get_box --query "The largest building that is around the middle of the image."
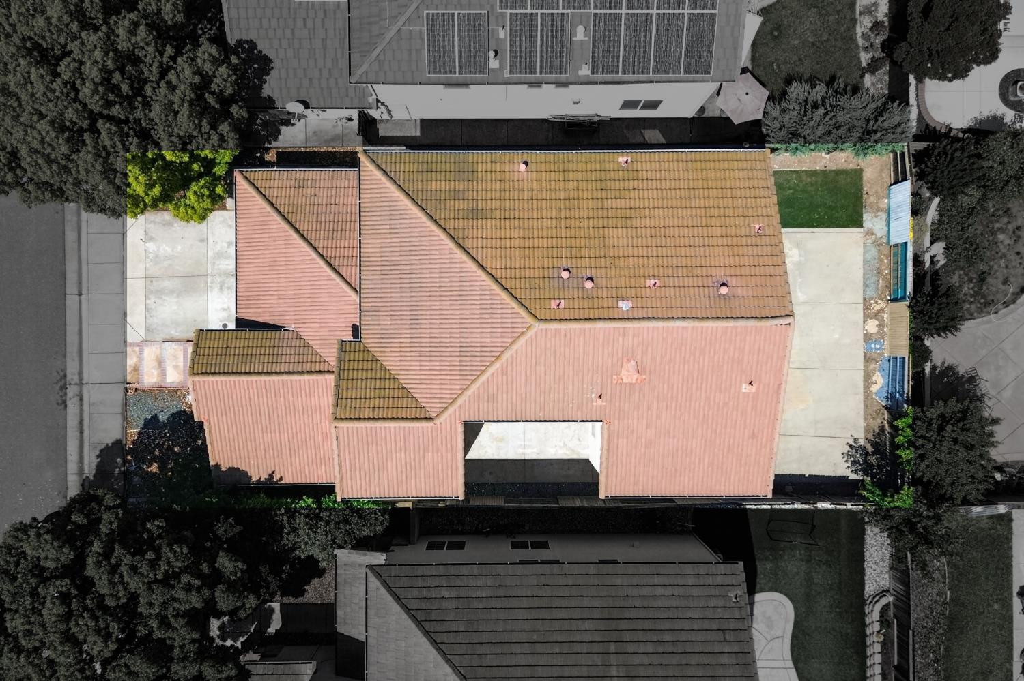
[186,144,797,501]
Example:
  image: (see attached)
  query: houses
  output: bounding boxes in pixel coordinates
[221,0,744,119]
[186,144,797,501]
[247,535,757,681]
